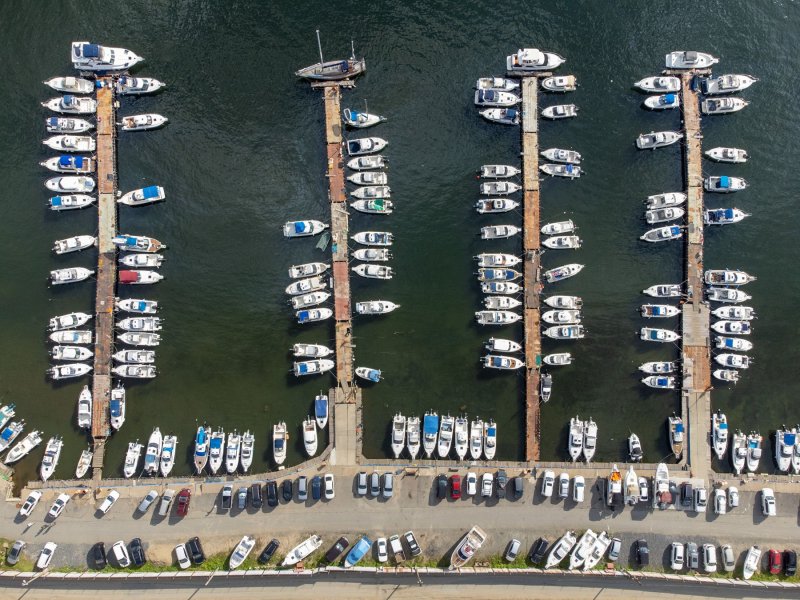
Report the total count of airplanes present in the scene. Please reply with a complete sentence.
No airplanes are visible.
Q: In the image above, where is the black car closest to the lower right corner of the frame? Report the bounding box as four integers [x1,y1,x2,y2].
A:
[783,548,798,577]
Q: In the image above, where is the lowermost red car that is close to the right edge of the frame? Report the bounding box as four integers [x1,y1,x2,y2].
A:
[768,548,781,573]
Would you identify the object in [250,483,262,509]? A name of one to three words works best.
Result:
vehicle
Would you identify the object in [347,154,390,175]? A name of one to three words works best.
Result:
boat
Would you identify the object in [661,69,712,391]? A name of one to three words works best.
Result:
pier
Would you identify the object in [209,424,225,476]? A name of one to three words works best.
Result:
boat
